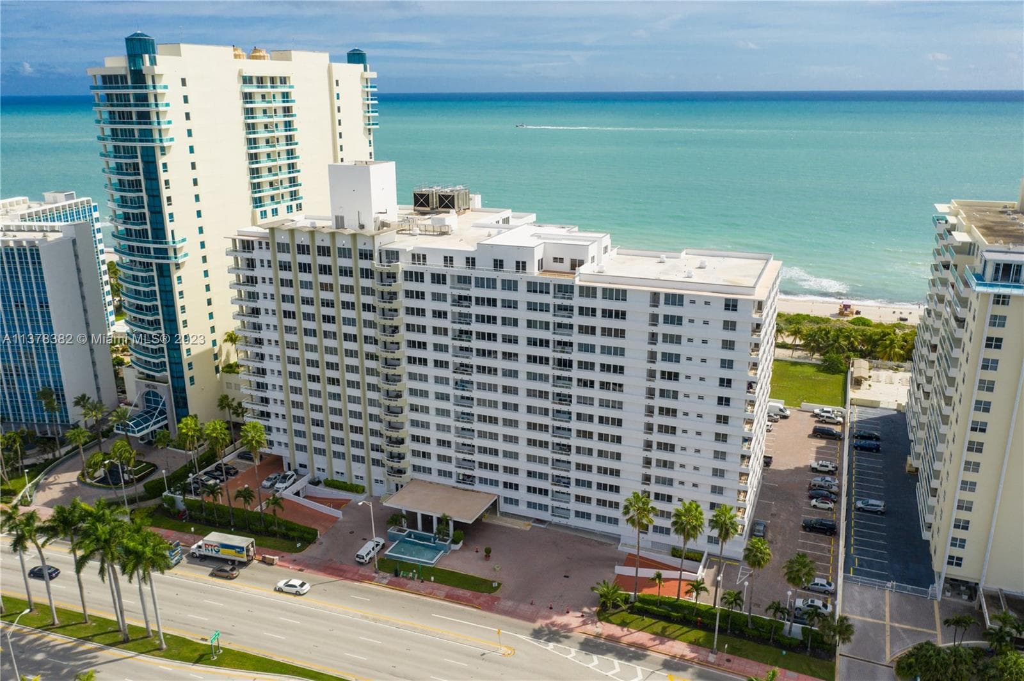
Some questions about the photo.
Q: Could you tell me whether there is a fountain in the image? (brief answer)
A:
Yes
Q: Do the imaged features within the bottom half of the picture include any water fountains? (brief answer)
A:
Yes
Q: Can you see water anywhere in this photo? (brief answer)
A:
Yes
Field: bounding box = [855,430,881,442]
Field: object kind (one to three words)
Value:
vehicle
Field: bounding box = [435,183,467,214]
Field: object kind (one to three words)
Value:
cooling tower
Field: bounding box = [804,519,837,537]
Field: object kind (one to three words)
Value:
car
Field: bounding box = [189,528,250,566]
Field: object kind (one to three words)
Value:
truck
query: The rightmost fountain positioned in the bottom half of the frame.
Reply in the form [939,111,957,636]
[384,525,456,567]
